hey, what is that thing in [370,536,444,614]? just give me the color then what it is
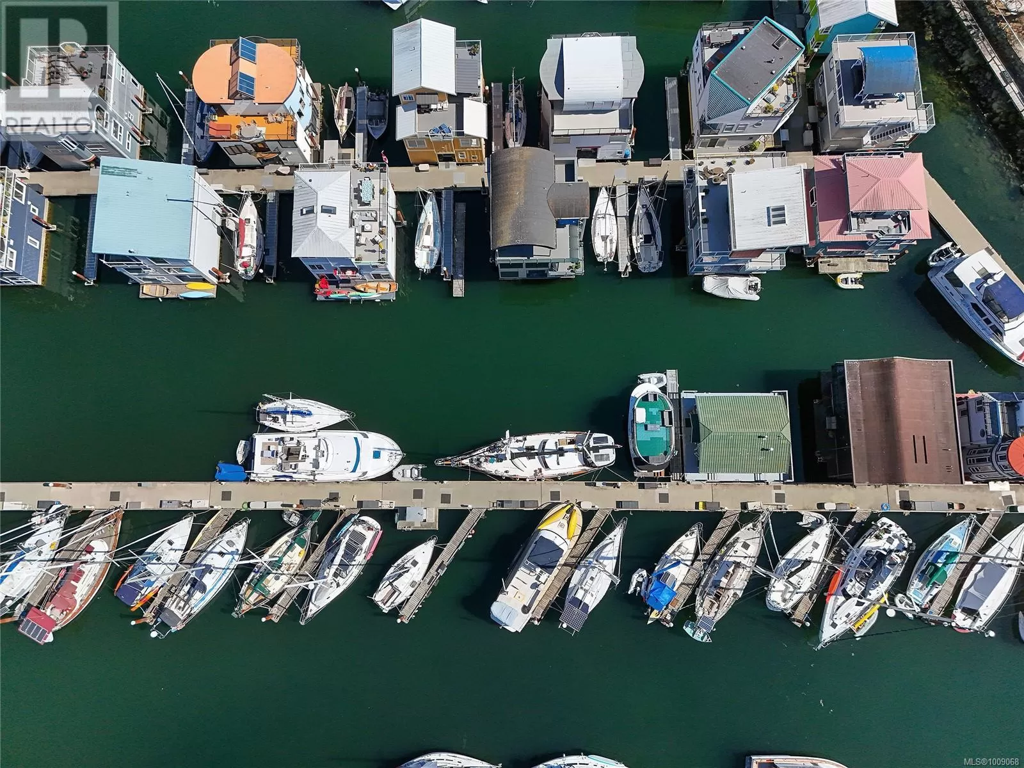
white boat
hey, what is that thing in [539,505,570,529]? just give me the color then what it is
yellow boat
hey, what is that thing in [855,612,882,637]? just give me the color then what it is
white boat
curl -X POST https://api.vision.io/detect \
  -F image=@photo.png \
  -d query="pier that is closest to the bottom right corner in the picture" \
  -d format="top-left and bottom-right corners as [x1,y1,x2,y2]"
[927,510,1003,621]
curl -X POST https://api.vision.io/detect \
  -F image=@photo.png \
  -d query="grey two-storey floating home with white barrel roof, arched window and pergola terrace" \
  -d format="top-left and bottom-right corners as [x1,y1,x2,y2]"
[0,39,150,164]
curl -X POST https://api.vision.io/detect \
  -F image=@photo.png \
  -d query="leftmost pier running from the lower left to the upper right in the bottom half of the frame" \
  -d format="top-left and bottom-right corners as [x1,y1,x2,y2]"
[7,510,111,619]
